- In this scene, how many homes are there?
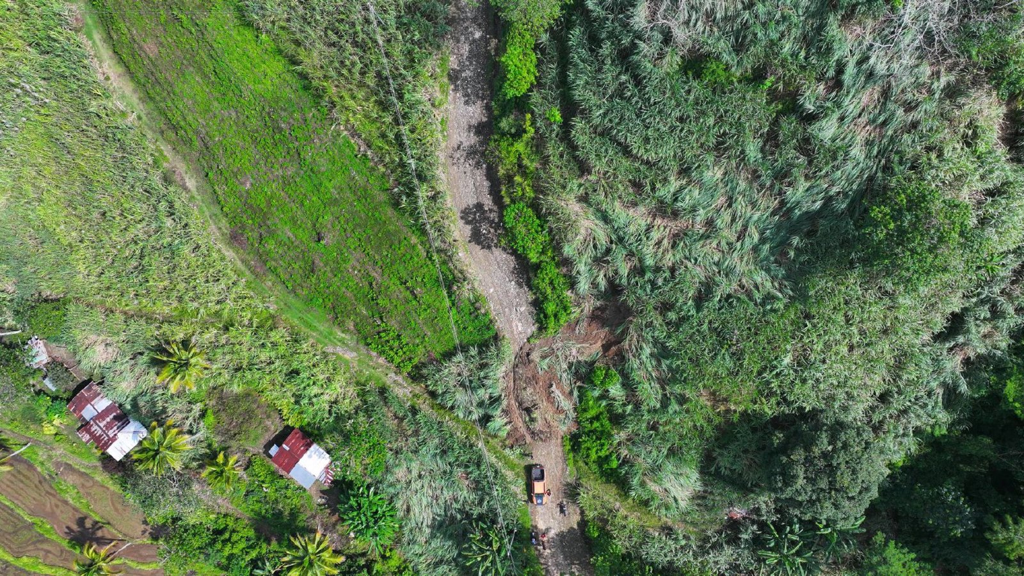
2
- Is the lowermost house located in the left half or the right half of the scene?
left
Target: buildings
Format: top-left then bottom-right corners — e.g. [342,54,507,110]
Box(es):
[273,427,337,488]
[70,381,149,461]
[24,337,52,370]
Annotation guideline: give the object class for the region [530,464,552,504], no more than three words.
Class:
truck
